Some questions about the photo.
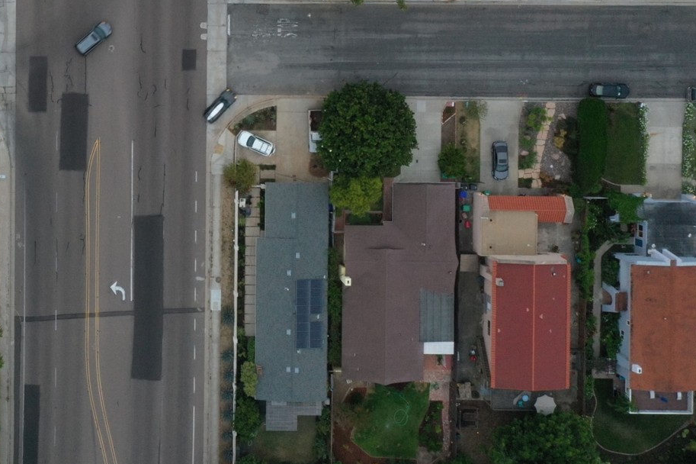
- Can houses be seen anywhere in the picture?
Yes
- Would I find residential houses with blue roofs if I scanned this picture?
No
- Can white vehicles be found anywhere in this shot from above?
Yes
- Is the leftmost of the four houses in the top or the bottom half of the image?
bottom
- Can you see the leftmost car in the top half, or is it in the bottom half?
top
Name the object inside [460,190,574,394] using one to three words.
house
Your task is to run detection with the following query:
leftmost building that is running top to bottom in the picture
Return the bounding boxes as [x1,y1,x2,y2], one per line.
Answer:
[255,182,329,431]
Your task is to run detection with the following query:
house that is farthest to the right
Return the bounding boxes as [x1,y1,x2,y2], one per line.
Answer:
[594,191,696,414]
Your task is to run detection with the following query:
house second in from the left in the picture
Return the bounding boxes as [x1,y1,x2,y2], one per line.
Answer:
[337,182,460,384]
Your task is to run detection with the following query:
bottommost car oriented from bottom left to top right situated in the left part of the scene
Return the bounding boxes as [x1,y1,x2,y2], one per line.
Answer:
[201,88,236,123]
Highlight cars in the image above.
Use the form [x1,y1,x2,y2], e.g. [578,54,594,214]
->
[588,82,628,99]
[74,21,112,55]
[685,86,696,101]
[491,141,509,180]
[236,129,275,156]
[201,88,236,123]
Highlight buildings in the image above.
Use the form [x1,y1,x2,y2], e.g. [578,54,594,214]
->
[337,182,460,384]
[594,191,696,414]
[460,190,574,394]
[255,182,329,431]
